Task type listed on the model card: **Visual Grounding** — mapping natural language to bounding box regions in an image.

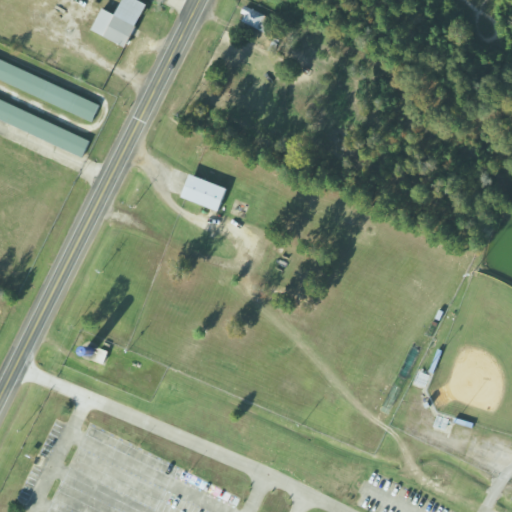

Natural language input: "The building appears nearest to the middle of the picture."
[180,174,228,212]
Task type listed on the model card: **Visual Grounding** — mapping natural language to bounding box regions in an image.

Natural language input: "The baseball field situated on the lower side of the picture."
[436,346,505,413]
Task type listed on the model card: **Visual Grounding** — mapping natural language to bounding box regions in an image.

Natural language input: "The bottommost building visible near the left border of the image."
[0,101,90,156]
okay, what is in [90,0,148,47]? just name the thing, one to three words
barn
